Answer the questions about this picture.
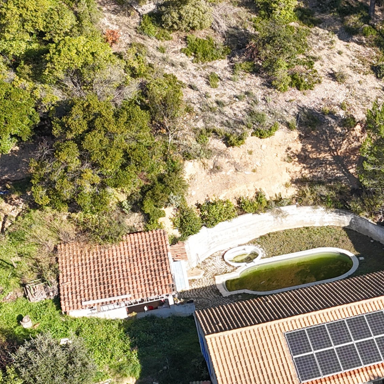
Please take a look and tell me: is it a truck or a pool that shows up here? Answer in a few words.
pool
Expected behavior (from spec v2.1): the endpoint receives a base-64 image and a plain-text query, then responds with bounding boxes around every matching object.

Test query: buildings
[194,270,384,384]
[55,229,179,330]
